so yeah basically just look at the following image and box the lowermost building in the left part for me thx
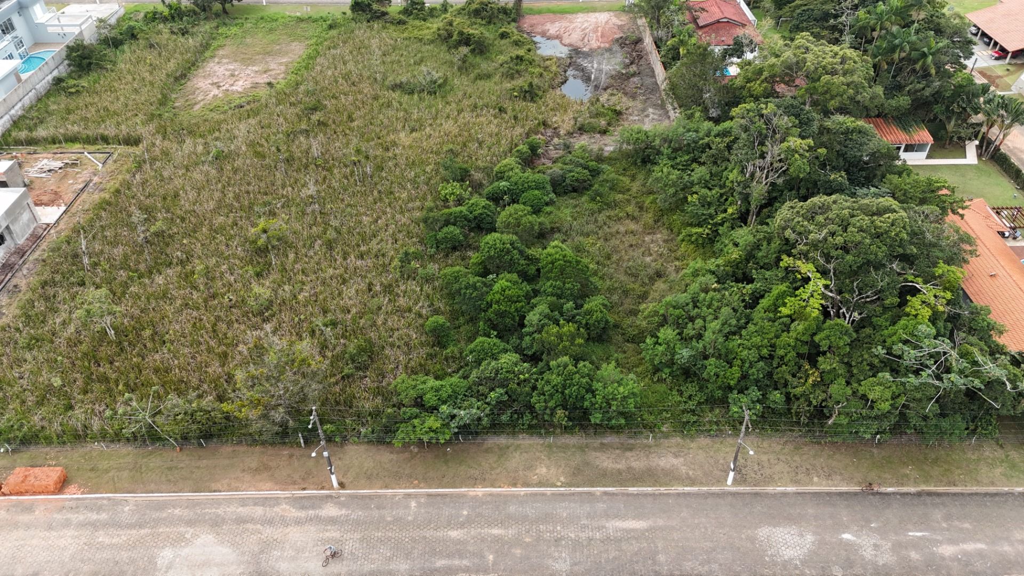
[0,187,38,268]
